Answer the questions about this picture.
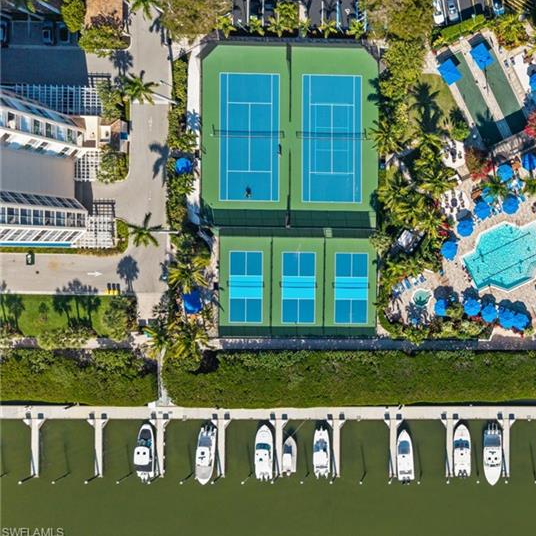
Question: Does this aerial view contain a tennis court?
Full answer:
Yes, there's a tennis court down there.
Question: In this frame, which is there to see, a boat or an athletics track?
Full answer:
Looking from above, you can make out a boat.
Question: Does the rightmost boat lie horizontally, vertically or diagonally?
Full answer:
From this overhead view, the rightmost boat appears to run vertically.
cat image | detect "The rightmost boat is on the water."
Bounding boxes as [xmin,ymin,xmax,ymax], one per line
[482,423,502,486]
